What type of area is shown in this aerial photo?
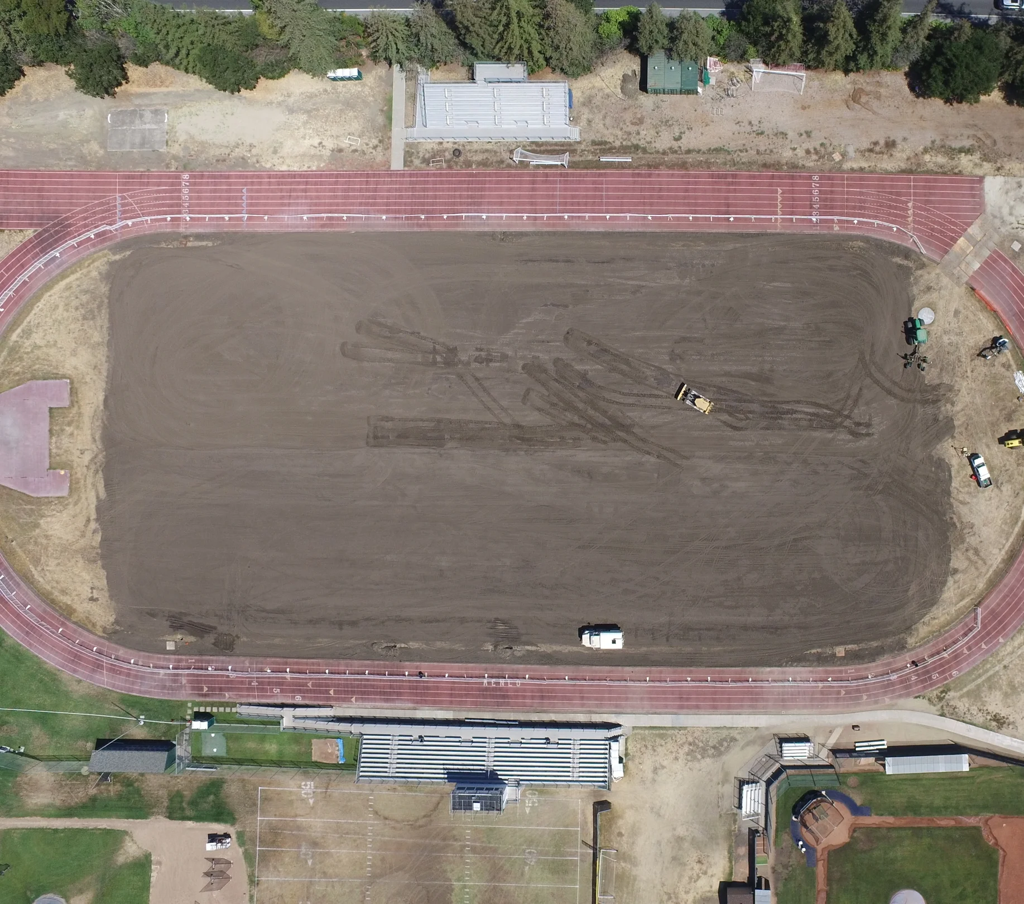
sports ground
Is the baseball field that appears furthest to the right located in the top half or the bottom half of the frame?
bottom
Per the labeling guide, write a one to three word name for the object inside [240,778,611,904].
sports field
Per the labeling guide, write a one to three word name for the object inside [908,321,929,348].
work vehicle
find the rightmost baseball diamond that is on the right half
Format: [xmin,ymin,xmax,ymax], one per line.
[767,767,1024,904]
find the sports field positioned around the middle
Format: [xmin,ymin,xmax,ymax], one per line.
[101,233,955,664]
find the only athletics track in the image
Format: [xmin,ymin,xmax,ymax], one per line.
[0,170,1024,709]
